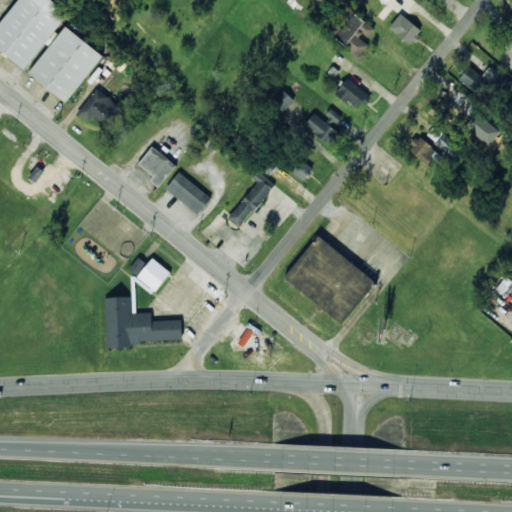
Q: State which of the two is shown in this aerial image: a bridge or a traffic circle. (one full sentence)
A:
There is a bridge in the scene.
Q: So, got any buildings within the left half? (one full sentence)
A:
Yes, looking within the left half, one can make out a building.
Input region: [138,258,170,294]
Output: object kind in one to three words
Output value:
building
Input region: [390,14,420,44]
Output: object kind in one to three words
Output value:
house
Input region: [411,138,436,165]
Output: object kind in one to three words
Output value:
house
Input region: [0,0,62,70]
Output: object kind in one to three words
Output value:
building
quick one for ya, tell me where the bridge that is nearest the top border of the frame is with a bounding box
[276,444,408,480]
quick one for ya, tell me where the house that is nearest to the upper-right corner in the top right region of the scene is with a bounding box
[460,66,485,90]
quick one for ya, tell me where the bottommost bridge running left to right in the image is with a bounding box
[276,492,404,512]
